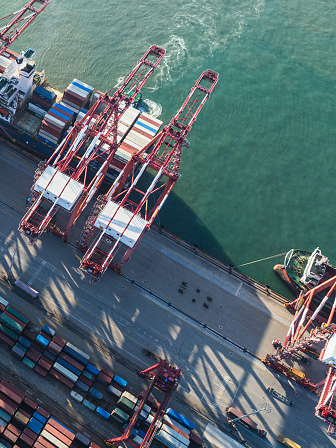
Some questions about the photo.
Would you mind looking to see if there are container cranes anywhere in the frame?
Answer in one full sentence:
Yes, you can see a container crane in this photo.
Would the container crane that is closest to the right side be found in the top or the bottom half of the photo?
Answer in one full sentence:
You can find the container crane that is closest to the right side in the bottom half.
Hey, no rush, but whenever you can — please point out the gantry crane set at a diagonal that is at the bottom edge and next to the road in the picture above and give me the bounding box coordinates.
[96,359,179,448]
